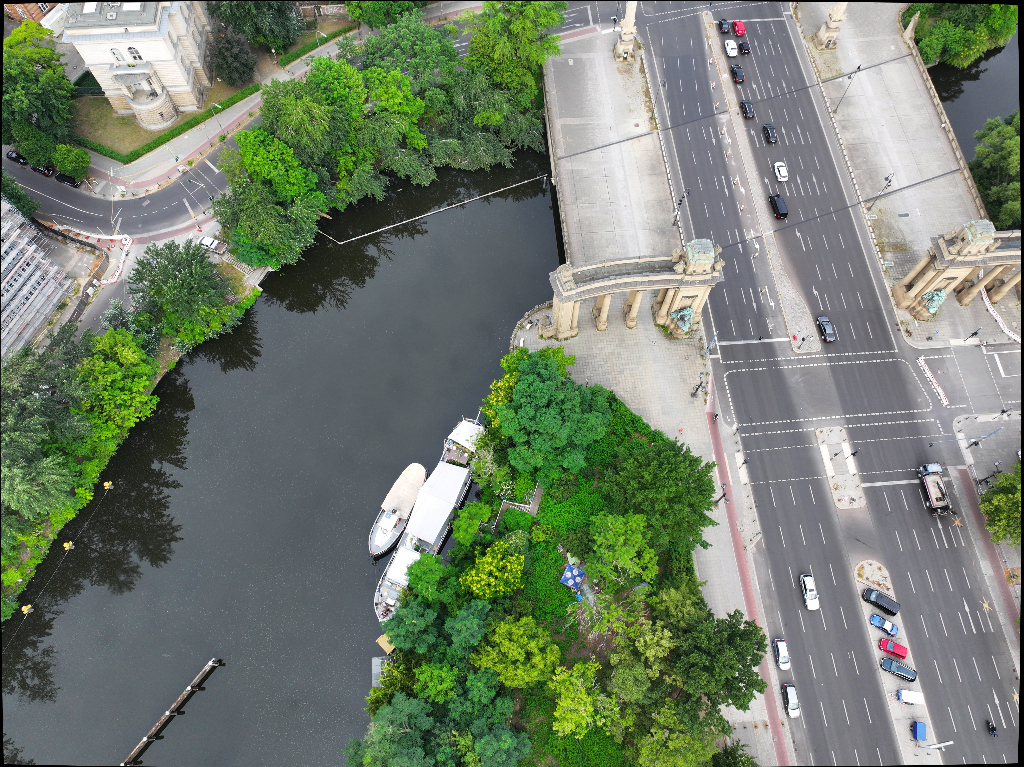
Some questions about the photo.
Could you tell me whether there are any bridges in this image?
Yes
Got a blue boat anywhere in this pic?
No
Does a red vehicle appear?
Yes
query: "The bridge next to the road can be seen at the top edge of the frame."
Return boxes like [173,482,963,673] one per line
[543,5,982,268]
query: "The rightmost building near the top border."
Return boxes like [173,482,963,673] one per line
[65,0,217,131]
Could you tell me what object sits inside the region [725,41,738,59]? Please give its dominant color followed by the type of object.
white vehicle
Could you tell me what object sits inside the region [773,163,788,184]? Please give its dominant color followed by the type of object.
white car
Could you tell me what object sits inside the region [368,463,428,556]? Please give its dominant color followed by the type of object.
white boat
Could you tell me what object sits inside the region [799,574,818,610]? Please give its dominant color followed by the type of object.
white car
